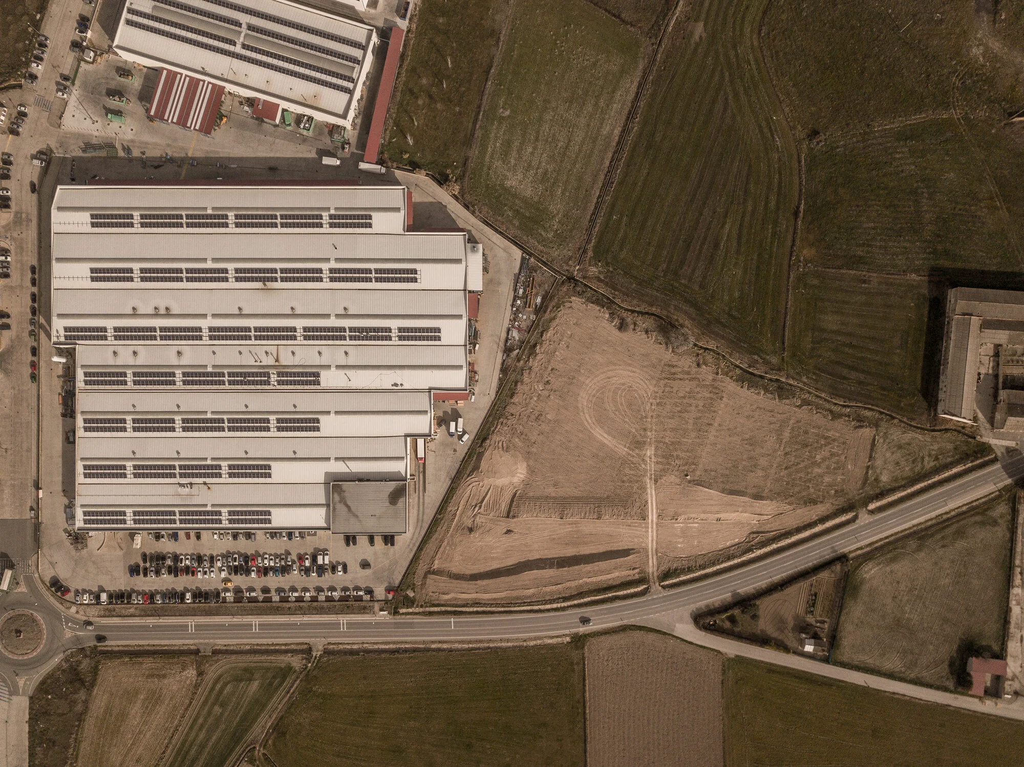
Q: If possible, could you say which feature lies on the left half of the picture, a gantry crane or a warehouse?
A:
warehouse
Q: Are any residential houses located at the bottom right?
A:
Yes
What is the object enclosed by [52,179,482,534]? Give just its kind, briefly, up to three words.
warehouse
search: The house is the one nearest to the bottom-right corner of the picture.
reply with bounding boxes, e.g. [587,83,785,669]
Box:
[963,654,1009,701]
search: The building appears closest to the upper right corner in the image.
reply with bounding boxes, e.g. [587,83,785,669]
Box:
[934,287,1024,432]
